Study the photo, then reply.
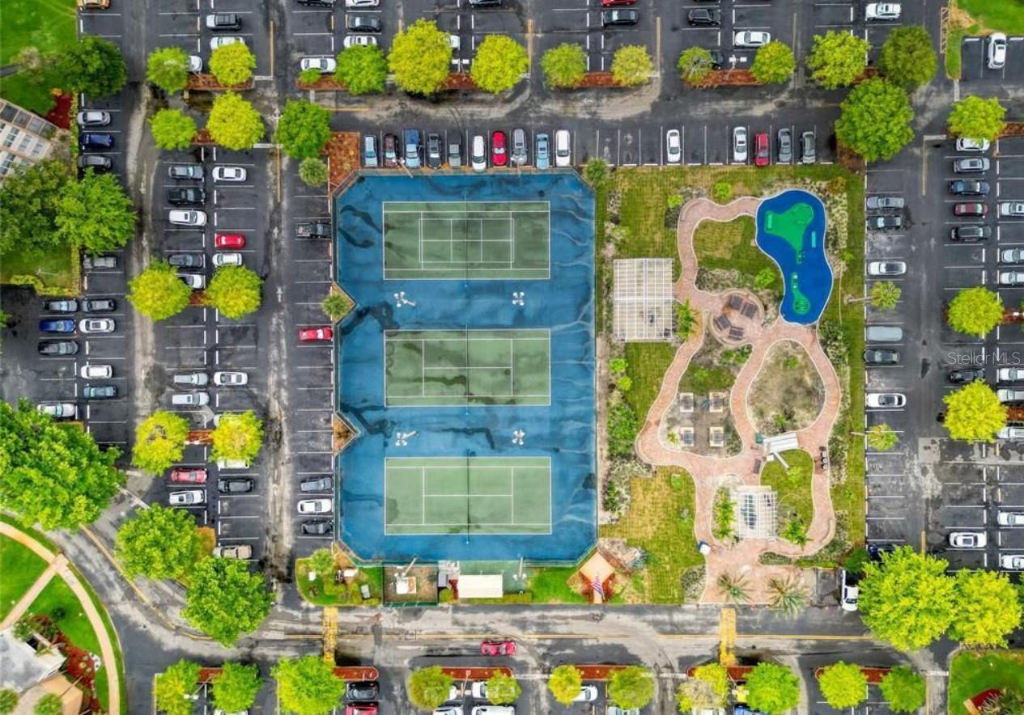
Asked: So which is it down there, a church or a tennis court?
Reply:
tennis court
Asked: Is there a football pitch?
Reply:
No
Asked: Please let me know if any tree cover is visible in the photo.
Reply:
Yes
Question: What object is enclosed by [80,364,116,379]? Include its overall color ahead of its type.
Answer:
white car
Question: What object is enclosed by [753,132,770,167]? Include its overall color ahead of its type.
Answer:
red car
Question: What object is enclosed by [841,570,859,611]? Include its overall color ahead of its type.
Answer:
white vehicle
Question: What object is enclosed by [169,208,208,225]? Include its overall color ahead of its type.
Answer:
white car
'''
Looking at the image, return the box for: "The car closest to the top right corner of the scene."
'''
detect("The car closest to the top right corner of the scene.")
[987,34,1006,69]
